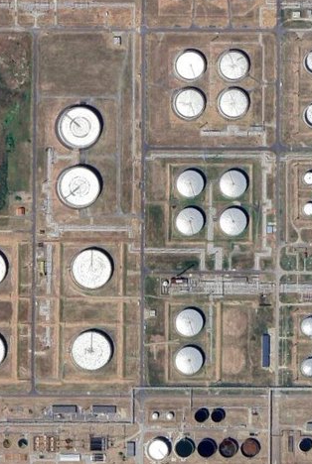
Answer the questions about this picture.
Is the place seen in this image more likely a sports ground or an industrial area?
industrial area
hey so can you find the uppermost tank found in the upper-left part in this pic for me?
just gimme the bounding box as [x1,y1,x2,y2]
[56,102,104,151]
